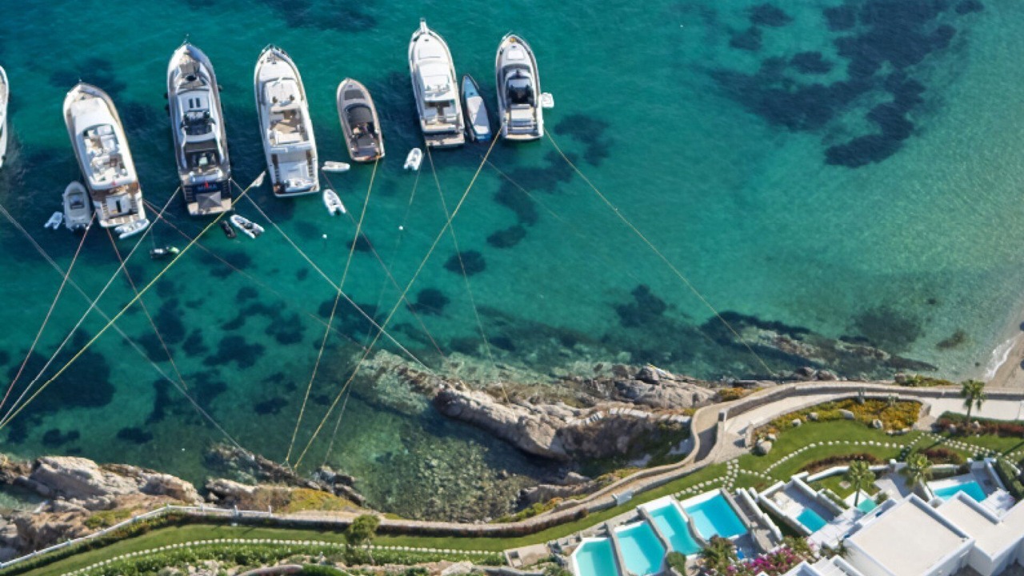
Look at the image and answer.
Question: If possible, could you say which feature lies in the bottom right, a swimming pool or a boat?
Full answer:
The one visible in the bottom right is a swimming pool.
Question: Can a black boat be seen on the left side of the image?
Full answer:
Yes, looking on the left side of the image, one can make out a black boat.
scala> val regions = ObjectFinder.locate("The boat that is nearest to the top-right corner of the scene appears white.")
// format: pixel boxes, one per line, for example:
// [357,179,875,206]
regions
[541,91,553,108]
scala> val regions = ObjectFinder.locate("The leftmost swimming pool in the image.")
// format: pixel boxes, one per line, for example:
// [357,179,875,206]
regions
[571,536,620,576]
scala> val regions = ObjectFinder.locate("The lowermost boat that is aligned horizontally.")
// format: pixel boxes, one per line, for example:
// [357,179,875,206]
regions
[151,246,179,258]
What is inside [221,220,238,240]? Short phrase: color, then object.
black boat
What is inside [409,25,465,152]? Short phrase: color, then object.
white boat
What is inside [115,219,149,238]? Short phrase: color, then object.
white boat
